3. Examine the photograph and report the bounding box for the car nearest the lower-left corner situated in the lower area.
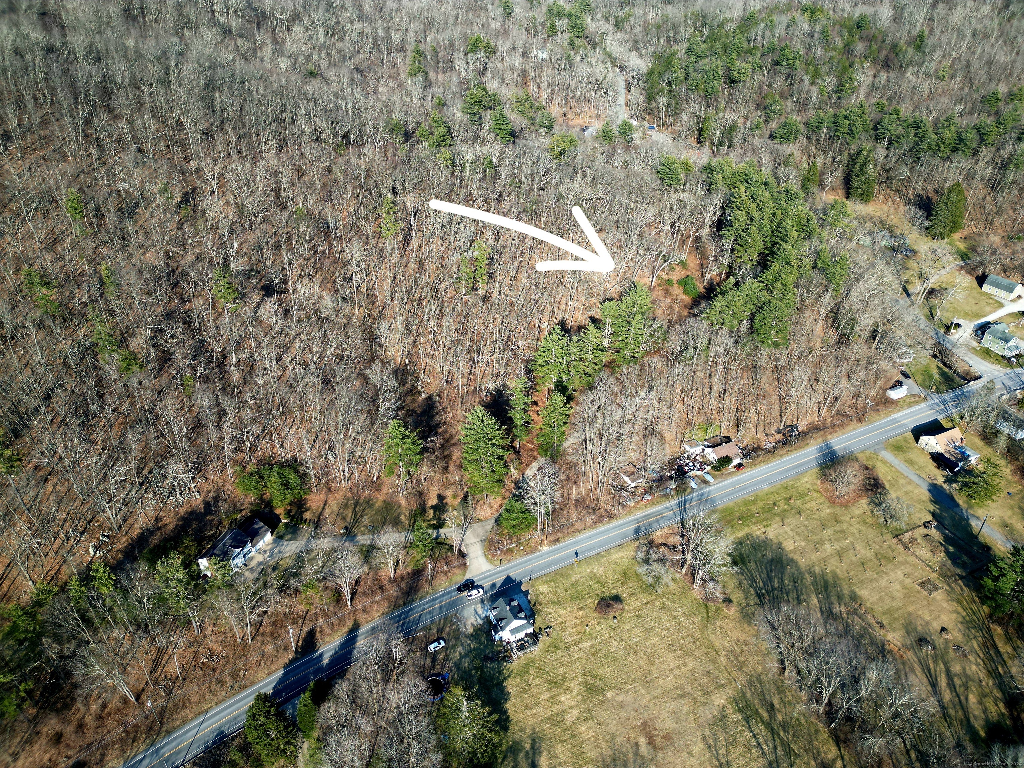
[426,638,446,653]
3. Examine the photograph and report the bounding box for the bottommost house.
[489,595,539,669]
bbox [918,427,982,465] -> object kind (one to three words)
house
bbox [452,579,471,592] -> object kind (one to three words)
vehicle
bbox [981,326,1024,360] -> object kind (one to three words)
building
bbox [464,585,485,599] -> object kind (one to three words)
vehicle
